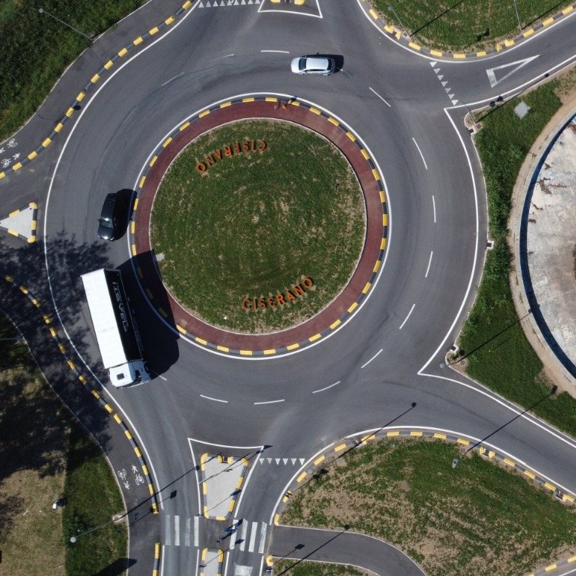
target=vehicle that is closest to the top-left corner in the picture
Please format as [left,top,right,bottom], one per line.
[93,193,124,242]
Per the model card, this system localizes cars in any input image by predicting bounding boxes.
[93,193,124,242]
[291,56,334,78]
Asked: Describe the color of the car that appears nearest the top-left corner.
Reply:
black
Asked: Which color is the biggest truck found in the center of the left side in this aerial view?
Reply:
white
